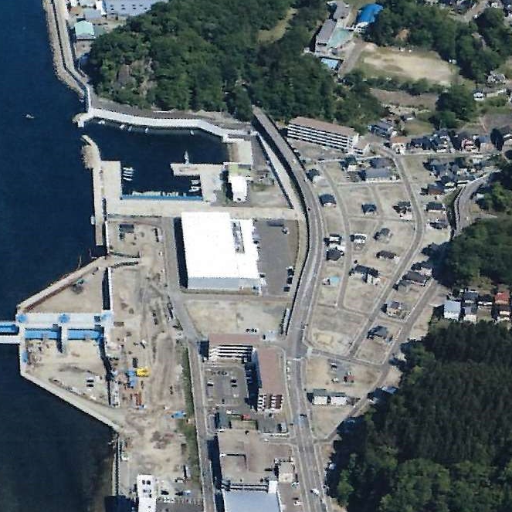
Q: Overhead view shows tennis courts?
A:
No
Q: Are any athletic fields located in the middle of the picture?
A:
No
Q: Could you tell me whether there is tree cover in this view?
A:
Yes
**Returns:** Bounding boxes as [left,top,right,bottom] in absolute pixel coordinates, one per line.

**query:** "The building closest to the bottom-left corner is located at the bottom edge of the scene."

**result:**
[135,475,156,512]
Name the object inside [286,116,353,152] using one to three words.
building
